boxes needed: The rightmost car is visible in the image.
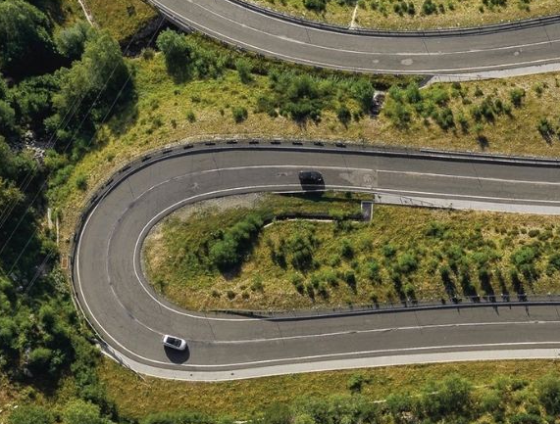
[298,170,322,183]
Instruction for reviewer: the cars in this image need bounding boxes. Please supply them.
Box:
[298,170,322,183]
[161,333,187,350]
